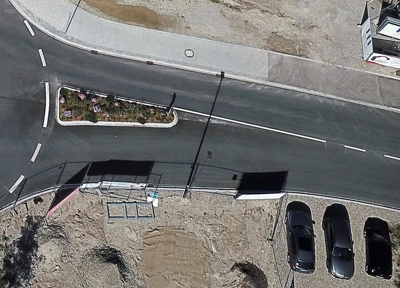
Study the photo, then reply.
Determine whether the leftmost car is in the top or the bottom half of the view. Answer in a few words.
bottom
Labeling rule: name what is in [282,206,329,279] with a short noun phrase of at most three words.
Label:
car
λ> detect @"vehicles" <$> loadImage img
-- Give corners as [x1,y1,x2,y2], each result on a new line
[282,206,329,279]
[323,206,365,283]
[361,215,400,285]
